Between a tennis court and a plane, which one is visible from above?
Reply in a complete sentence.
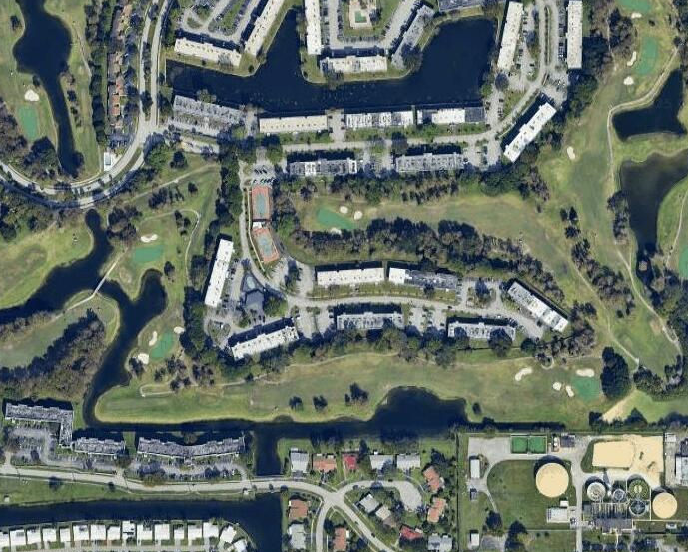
Visible in the photo is a tennis court.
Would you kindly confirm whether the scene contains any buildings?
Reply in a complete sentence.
Yes, the photo shows a building.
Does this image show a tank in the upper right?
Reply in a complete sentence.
No, in the upper right there is no tank.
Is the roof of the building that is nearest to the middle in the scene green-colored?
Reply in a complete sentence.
No, the color of the roof of the building that is nearest to the middle is white.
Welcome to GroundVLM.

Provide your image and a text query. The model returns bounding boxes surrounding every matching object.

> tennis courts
[253,229,279,262]
[252,186,269,219]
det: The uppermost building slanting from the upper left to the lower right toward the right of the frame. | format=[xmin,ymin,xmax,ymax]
[508,281,570,333]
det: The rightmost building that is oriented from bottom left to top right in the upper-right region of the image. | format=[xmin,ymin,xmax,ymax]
[504,102,559,162]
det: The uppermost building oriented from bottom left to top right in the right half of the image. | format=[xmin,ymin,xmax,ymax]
[391,4,436,66]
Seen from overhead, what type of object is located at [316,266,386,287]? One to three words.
building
